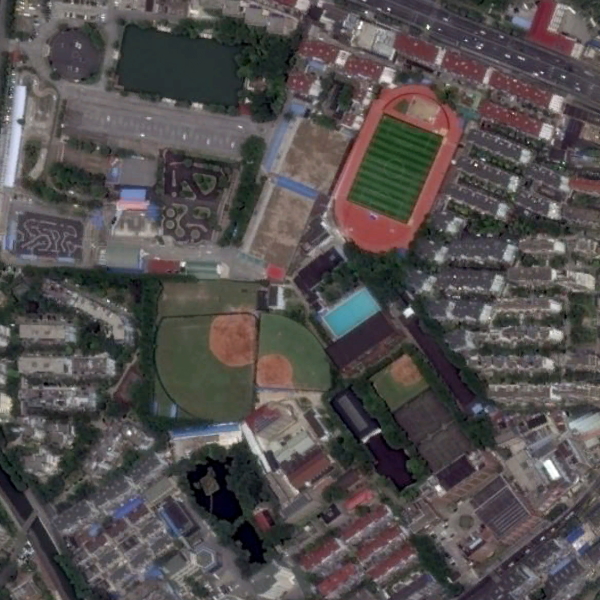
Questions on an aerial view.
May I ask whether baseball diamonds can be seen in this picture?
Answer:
Yes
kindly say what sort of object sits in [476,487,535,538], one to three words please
shed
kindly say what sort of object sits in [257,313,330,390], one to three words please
baseball field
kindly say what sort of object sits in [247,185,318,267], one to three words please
sports field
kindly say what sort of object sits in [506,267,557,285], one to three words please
building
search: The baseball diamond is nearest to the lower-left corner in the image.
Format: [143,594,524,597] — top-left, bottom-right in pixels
[154,313,257,421]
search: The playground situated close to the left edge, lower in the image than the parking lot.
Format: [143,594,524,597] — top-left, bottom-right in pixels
[17,211,83,264]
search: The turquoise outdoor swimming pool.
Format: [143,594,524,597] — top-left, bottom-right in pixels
[316,282,388,343]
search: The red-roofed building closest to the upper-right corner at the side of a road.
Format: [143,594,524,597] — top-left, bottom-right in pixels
[528,0,582,60]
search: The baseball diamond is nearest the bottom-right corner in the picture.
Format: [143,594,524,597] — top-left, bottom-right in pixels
[371,355,430,411]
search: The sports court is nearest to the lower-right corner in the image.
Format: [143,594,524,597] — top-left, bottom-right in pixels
[420,421,472,473]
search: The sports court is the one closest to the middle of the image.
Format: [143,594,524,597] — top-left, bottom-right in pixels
[393,380,455,441]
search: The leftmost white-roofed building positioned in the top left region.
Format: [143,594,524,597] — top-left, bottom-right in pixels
[4,86,29,188]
